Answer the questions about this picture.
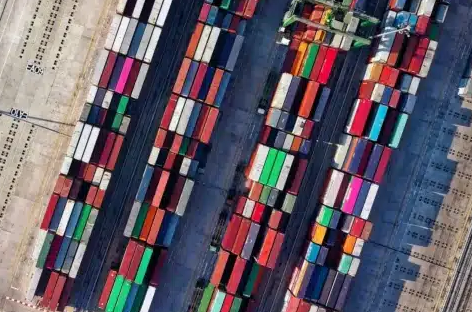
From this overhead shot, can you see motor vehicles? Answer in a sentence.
Yes, there's a motor vehicle here.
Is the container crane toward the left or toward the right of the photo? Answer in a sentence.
It is on the right.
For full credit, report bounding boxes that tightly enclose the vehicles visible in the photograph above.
[255,71,276,116]
[188,278,205,312]
[208,208,229,253]
[281,20,295,47]
[276,20,288,35]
